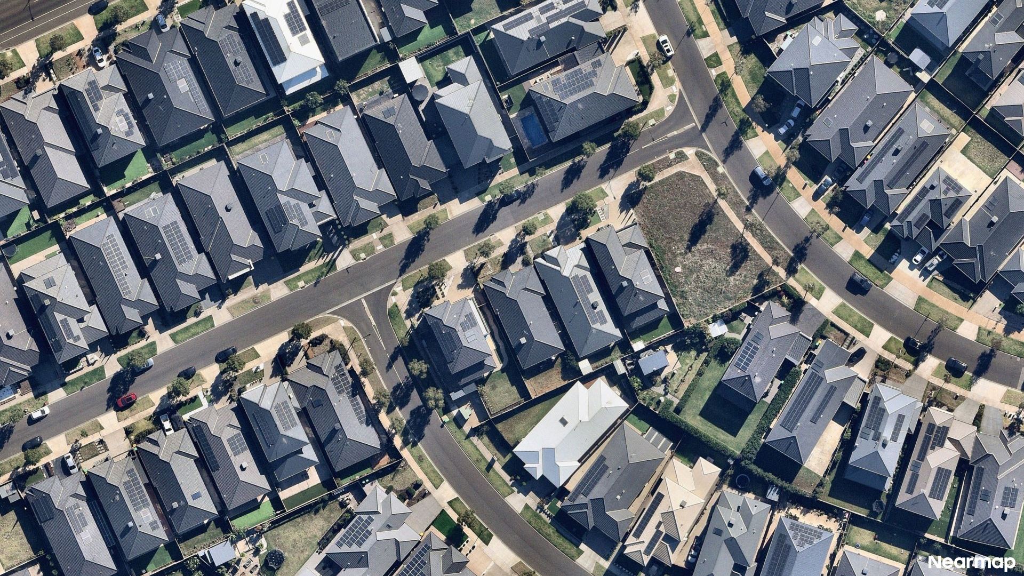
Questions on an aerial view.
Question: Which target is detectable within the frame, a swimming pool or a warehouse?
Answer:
swimming pool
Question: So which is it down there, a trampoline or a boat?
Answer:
trampoline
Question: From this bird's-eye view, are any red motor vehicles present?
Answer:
Yes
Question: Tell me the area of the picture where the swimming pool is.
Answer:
top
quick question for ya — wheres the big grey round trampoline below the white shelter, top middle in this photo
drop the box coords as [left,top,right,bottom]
[412,84,428,100]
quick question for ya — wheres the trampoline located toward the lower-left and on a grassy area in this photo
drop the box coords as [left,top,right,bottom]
[266,550,284,568]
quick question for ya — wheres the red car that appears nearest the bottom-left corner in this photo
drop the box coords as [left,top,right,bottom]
[113,391,140,410]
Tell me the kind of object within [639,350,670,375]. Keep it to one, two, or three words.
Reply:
shed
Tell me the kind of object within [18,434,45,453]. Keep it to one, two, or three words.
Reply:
car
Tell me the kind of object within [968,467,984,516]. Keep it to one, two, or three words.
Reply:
solar array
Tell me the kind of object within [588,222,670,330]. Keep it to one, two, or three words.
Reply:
house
